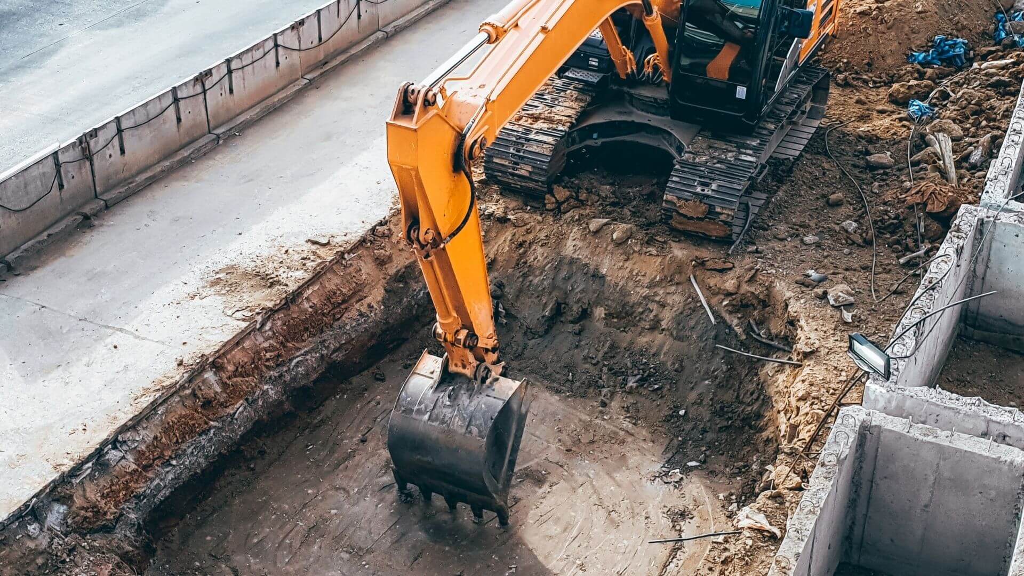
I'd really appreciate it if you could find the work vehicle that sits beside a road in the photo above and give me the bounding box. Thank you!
[378,0,849,526]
